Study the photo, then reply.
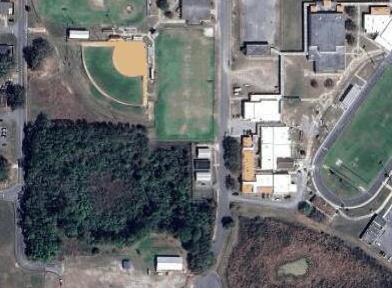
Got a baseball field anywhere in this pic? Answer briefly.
Yes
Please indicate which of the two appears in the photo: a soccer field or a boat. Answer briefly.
soccer field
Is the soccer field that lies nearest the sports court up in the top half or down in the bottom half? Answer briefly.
top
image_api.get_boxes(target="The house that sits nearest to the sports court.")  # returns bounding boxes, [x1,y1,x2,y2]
[245,42,272,56]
